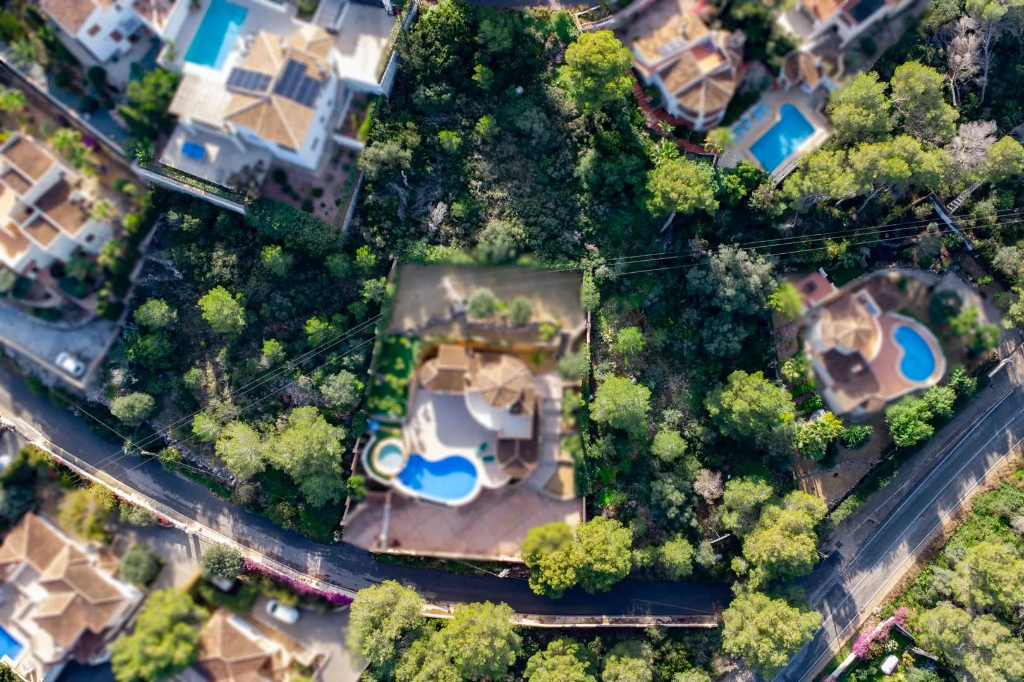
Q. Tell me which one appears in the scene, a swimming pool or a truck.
swimming pool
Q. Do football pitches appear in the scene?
No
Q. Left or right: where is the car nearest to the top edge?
left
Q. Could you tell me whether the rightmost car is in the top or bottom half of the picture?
bottom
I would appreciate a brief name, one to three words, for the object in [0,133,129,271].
house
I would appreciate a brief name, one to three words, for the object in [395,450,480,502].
swimming pool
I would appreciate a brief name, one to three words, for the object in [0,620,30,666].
swimming pool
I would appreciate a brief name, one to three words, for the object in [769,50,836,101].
building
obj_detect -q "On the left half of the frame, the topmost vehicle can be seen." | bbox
[56,350,91,377]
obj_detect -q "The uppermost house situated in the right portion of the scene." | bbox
[774,0,908,59]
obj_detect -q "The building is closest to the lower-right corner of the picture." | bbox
[802,287,884,420]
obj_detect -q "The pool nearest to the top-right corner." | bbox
[741,95,824,182]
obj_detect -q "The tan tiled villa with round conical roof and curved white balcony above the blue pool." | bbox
[417,345,540,479]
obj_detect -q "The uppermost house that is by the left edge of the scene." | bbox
[41,0,163,77]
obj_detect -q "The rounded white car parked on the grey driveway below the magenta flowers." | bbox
[268,597,303,624]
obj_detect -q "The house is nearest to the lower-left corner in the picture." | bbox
[0,508,156,663]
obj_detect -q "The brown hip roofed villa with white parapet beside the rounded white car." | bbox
[193,605,317,682]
